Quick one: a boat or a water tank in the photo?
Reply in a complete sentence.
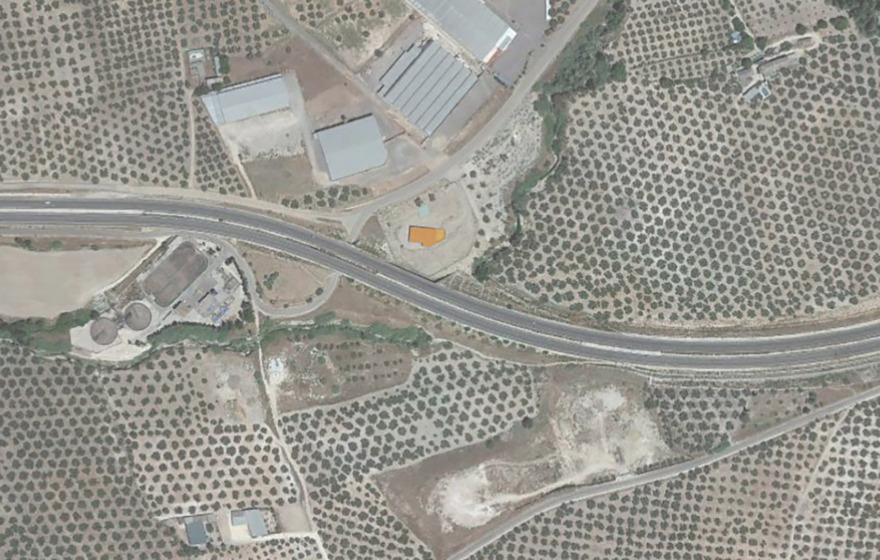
I can see a water tank in this picture.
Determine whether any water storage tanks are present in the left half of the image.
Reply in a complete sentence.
Yes, the scene does show a water storage tank in the left half of the image.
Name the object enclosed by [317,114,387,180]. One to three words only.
building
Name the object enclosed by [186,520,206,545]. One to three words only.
shed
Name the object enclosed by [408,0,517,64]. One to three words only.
building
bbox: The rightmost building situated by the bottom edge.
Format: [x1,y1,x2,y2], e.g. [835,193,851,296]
[245,508,268,538]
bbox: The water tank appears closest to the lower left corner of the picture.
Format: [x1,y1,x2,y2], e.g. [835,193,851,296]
[90,318,118,344]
